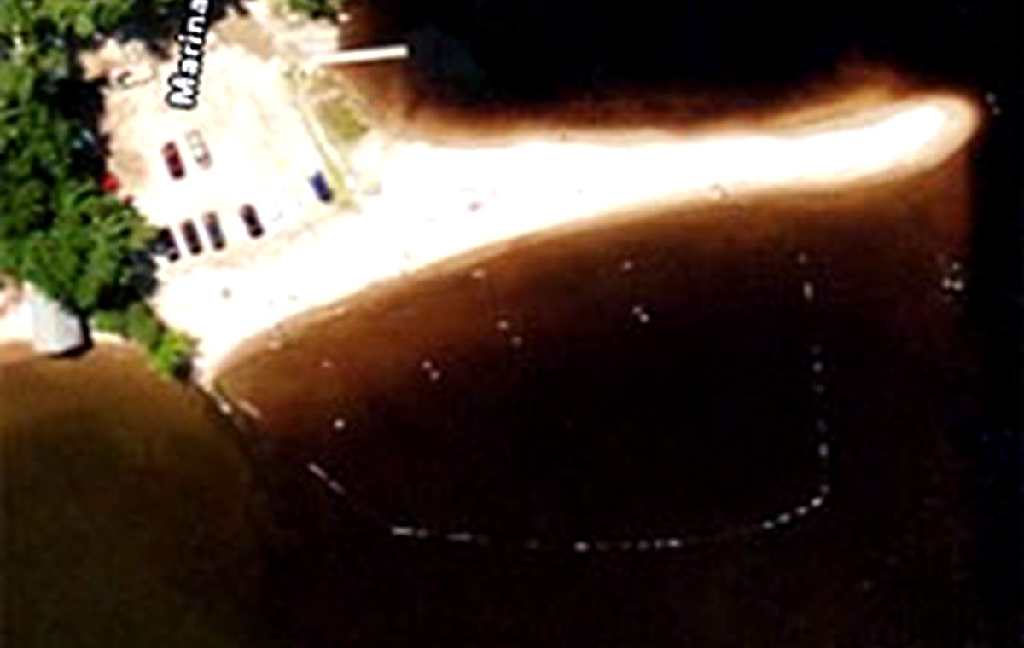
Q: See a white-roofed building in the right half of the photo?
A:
No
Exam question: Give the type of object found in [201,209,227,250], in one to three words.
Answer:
car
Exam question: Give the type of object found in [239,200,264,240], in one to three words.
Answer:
car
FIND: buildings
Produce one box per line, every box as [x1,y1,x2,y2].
[21,288,82,354]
